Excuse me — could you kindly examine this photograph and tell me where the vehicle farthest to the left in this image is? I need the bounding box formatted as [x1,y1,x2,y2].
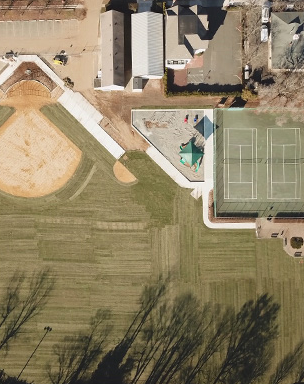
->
[2,49,16,62]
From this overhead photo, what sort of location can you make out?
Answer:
sports ground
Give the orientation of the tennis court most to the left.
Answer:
from top to bottom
